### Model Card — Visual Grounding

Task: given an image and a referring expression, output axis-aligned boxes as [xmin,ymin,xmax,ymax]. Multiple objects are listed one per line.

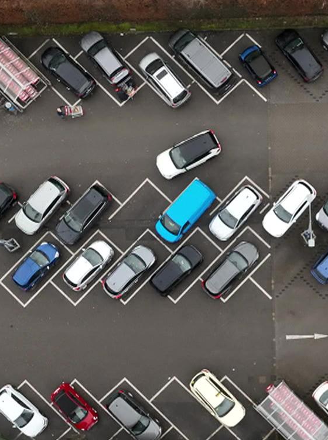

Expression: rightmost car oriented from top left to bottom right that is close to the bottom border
[189,368,246,426]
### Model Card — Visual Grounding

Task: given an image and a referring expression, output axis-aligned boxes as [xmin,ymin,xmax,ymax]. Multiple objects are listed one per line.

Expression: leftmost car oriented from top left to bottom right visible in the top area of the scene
[43,45,99,102]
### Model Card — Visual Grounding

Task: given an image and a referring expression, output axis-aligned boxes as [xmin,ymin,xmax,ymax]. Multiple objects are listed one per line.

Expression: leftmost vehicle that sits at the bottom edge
[0,383,48,438]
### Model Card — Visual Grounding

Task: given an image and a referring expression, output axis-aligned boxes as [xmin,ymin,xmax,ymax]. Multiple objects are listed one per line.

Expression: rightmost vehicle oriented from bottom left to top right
[264,179,317,236]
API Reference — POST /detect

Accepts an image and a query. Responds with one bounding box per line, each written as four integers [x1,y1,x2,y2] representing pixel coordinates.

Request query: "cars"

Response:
[276,31,321,84]
[312,249,328,285]
[12,242,61,291]
[202,244,258,300]
[18,176,71,234]
[138,52,192,112]
[240,45,278,90]
[50,382,99,430]
[0,182,18,219]
[213,184,263,239]
[63,241,114,292]
[160,126,220,179]
[81,30,133,89]
[312,379,328,415]
[105,390,161,440]
[150,246,202,297]
[57,181,114,242]
[0,383,48,438]
[43,45,99,102]
[101,246,156,301]
[264,179,317,236]
[189,368,246,426]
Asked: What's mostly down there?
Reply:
paved ground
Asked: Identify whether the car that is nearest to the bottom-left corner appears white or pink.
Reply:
white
